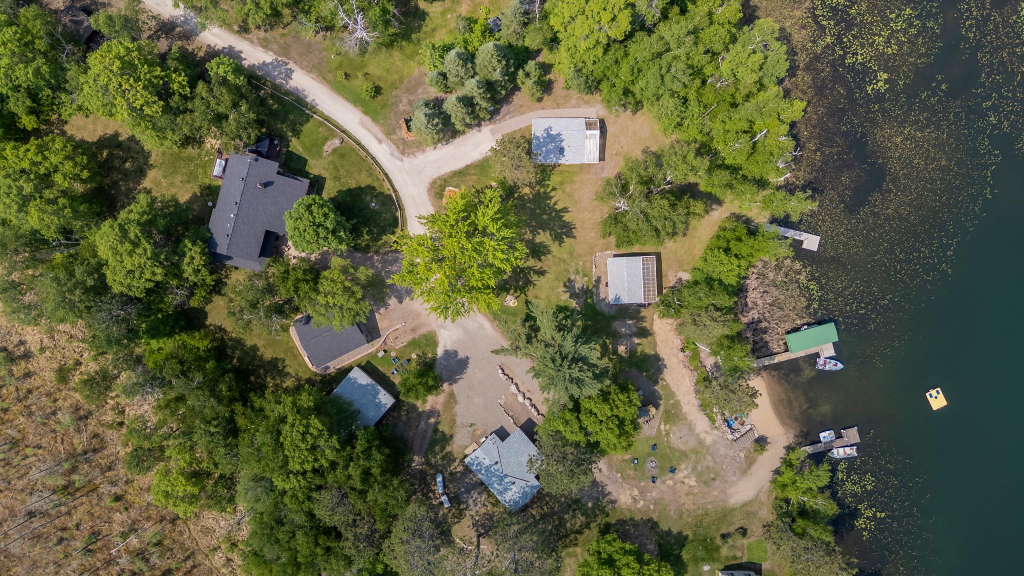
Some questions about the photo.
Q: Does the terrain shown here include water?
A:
Yes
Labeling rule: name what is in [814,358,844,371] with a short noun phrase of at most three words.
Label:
boat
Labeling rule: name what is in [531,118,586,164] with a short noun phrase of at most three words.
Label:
building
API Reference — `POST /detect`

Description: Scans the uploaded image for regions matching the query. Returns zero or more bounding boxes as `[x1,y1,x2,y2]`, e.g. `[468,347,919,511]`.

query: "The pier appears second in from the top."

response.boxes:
[746,342,836,369]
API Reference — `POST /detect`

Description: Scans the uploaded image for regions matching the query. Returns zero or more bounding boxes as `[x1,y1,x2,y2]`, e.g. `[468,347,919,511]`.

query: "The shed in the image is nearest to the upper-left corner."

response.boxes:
[59,3,99,46]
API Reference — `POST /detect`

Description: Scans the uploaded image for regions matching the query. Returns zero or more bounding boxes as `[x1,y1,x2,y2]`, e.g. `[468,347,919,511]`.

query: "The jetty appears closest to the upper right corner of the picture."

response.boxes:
[766,225,820,251]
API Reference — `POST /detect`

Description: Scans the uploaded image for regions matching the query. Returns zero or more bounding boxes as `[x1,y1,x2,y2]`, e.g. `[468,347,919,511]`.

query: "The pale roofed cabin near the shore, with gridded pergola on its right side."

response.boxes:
[607,256,643,304]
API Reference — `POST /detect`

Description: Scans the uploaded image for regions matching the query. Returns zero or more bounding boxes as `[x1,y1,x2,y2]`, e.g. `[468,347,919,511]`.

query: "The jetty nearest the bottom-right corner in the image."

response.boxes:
[802,427,861,455]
